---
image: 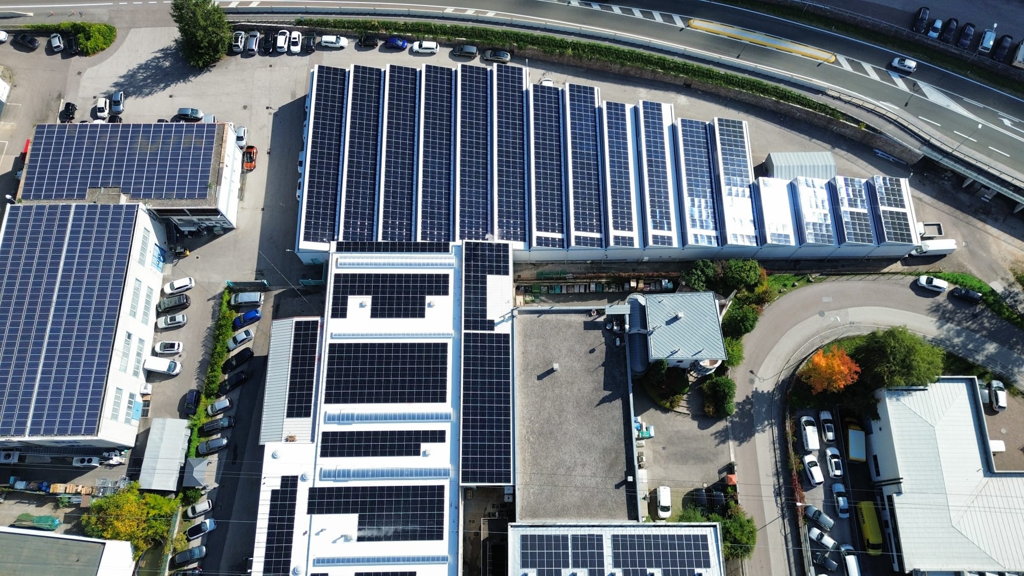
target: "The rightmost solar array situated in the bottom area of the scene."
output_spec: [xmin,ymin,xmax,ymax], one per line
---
[612,535,710,576]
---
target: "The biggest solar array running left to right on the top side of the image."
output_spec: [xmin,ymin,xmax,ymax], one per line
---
[20,123,216,198]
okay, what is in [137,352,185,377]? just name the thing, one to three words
vehicle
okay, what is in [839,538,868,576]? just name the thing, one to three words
van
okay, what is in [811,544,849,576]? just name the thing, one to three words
truck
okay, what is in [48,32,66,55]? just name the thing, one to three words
car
